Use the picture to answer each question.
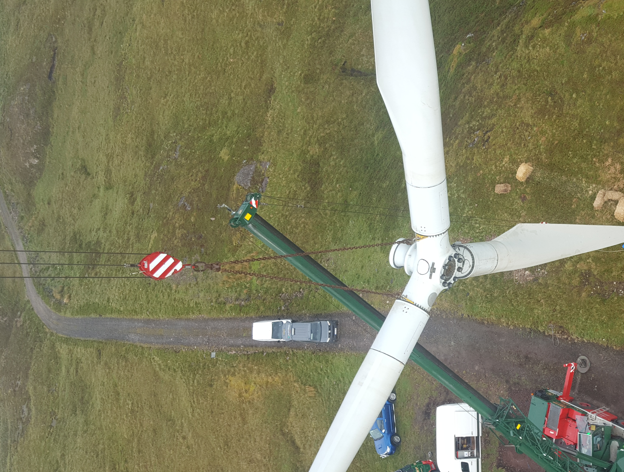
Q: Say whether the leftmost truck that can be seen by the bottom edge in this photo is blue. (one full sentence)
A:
Yes, the leftmost truck that can be seen by the bottom edge is blue.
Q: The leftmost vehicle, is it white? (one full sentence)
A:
Yes, white is the color of the leftmost vehicle.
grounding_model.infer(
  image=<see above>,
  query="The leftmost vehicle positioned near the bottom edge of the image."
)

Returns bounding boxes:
[367,388,401,457]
